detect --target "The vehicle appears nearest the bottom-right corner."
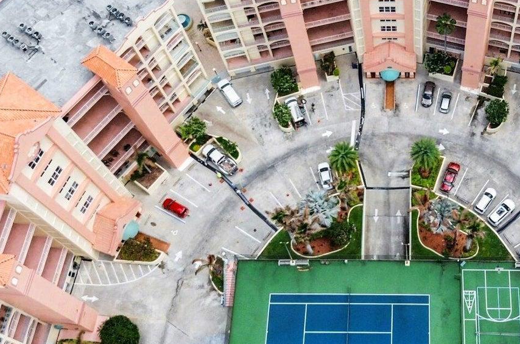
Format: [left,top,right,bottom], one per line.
[489,199,515,228]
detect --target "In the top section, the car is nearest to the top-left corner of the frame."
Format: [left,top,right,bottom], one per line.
[217,79,243,107]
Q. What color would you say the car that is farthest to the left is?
red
